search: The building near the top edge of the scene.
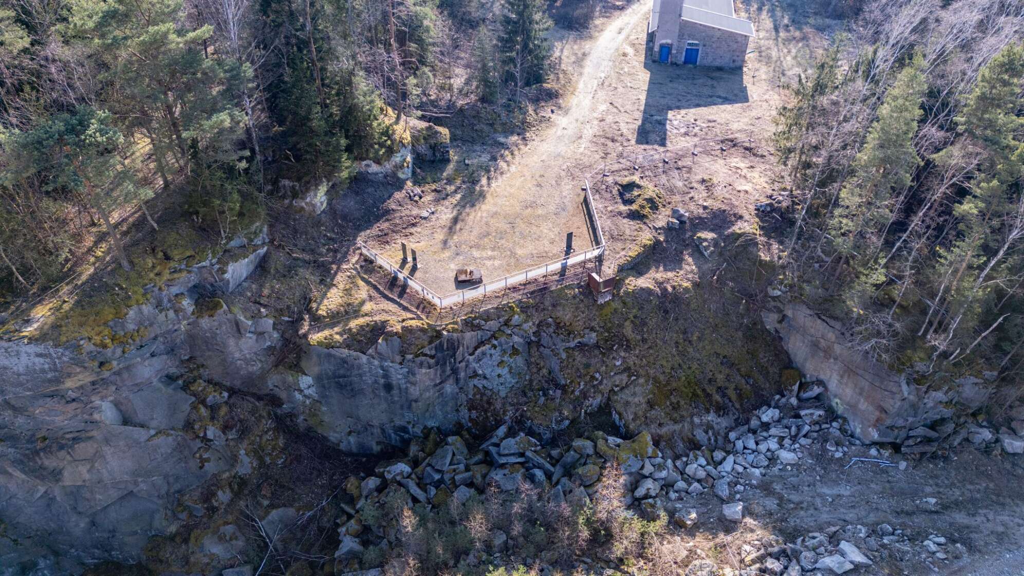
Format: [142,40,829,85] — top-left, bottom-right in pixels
[647,0,757,67]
